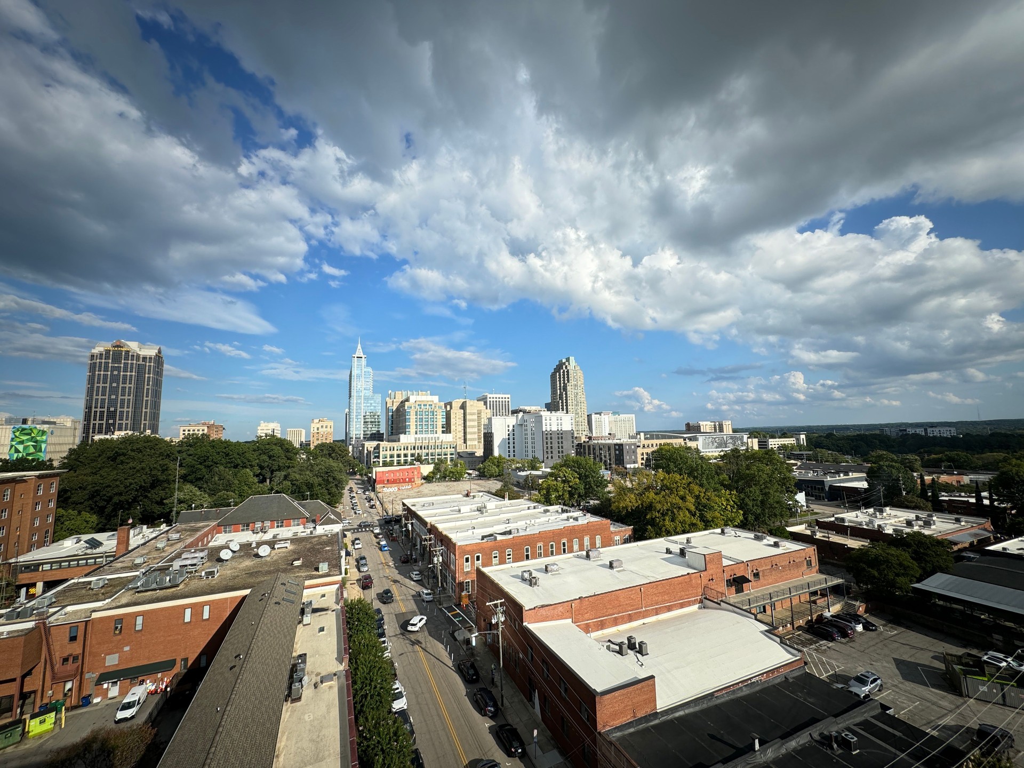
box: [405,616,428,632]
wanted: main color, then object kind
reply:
white car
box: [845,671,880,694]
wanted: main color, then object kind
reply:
gray car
